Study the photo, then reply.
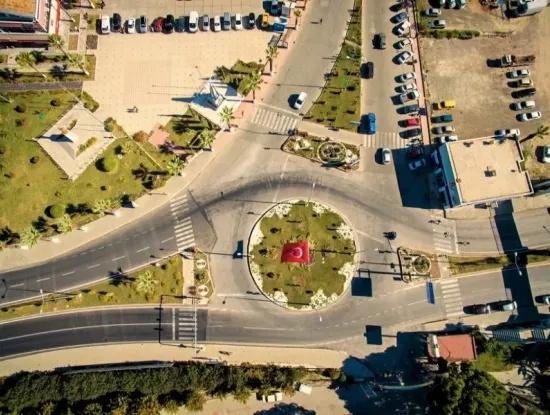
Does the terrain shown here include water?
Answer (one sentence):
No, there is no water in the image.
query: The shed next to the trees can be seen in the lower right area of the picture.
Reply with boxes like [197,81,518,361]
[427,331,476,360]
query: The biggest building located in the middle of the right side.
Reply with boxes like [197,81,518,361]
[428,135,534,208]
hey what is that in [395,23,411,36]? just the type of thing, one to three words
vehicle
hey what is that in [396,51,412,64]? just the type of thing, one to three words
vehicle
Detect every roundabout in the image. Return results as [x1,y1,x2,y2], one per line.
[248,201,356,311]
